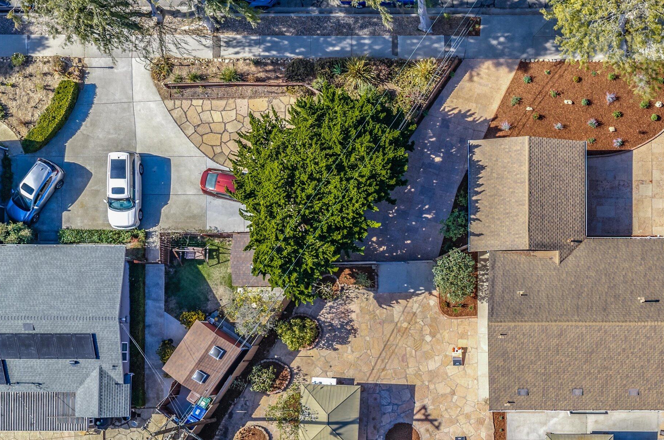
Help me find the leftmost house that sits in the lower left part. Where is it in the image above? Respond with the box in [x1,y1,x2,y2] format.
[0,244,135,418]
